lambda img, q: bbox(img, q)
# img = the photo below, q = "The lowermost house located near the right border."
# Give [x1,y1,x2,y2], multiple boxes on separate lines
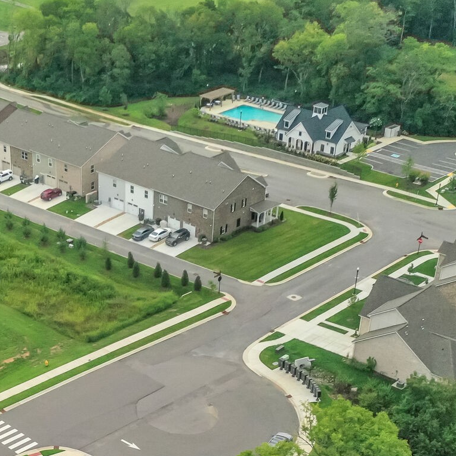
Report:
[350,275,456,388]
